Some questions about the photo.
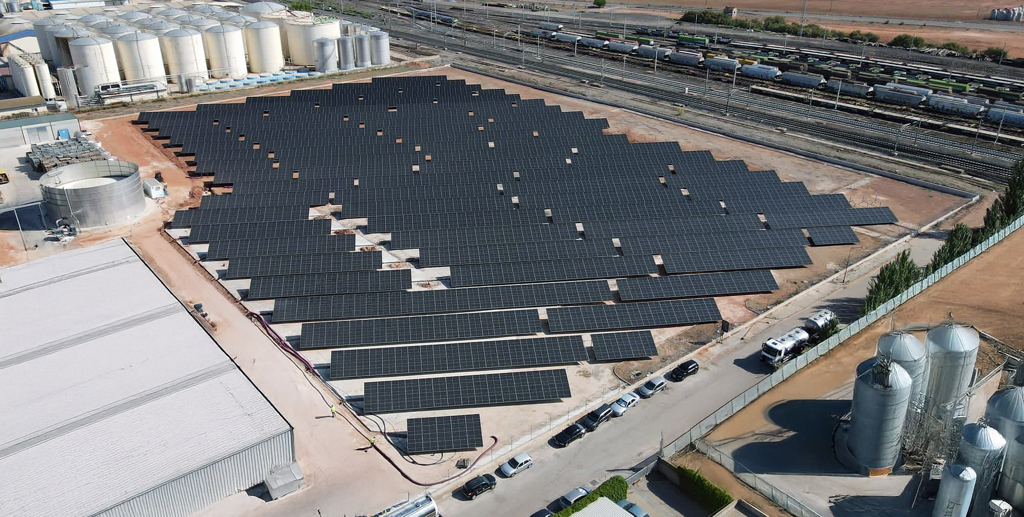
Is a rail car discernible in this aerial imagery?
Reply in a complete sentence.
Yes, there's a rail car down there.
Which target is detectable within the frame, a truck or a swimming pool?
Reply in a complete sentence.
Of the two, only a truck appears.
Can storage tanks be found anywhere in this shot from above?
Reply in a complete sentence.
Yes, a storage tank is visible in the scene.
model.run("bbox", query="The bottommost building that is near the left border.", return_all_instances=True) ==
[0,237,297,517]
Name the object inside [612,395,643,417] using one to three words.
car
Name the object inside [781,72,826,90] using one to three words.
rail car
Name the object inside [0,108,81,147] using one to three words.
building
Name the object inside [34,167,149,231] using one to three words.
storage tank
